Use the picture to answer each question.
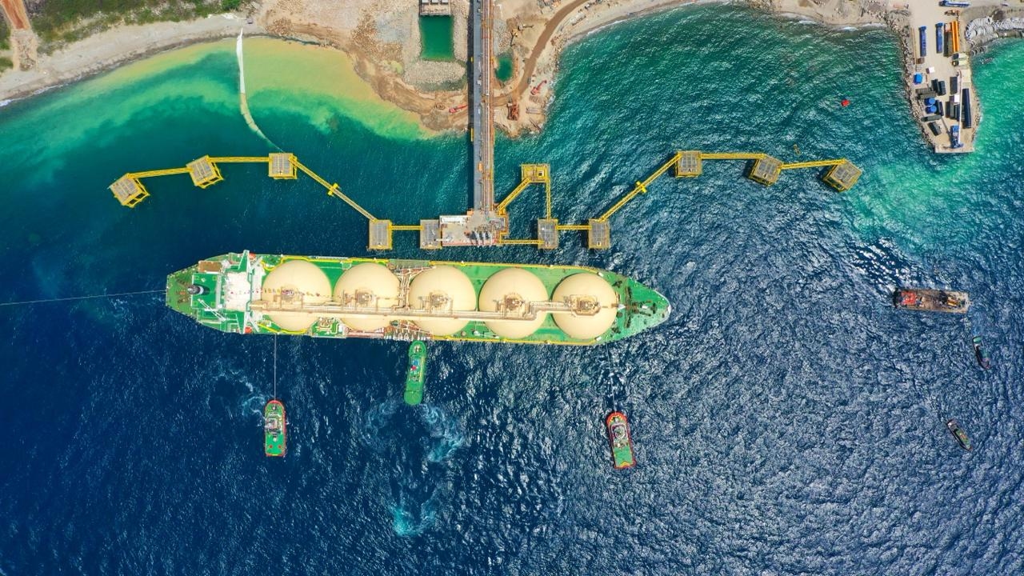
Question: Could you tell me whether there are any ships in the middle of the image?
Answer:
Yes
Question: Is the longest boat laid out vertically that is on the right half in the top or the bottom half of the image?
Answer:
bottom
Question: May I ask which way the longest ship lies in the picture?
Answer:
horizontally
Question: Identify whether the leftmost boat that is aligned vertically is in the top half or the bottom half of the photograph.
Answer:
bottom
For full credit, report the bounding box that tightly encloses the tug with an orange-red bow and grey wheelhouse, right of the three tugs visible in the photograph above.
[607,411,635,471]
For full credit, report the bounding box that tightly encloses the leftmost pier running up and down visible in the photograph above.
[471,0,495,210]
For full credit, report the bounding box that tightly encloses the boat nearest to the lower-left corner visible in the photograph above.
[264,399,288,457]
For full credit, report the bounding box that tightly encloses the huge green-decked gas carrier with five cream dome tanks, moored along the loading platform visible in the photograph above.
[166,250,671,345]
